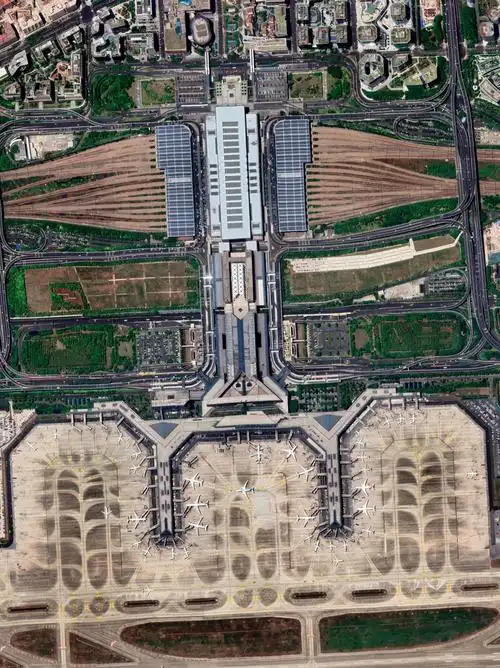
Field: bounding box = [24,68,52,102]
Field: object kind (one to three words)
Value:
building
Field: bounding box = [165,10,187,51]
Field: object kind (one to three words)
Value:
building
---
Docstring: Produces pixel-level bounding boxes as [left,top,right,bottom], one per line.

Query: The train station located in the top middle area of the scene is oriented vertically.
[206,105,263,239]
